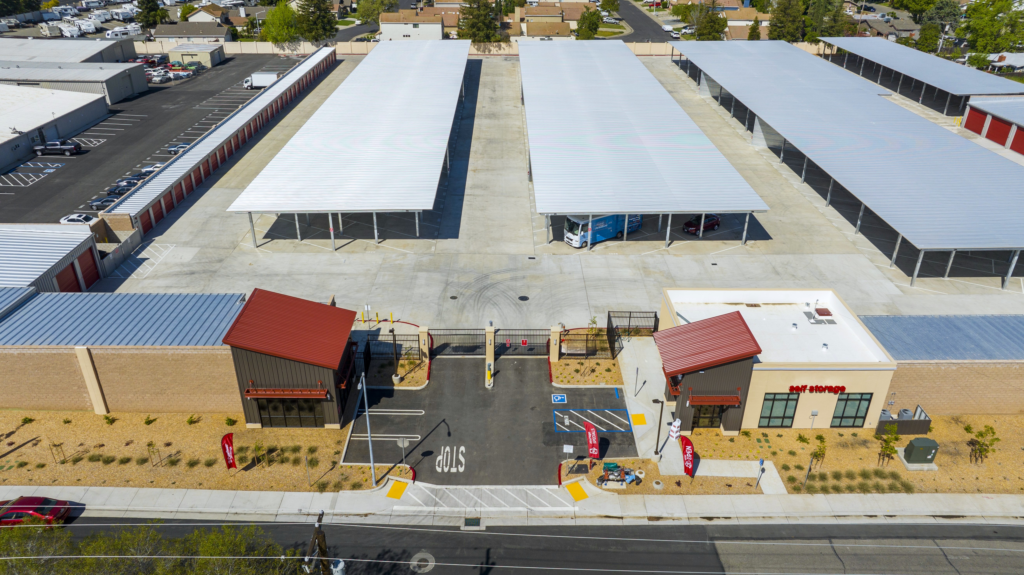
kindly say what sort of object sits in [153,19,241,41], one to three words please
house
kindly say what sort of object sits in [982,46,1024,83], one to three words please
house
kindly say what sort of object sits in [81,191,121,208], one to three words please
car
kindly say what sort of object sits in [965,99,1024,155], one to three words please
building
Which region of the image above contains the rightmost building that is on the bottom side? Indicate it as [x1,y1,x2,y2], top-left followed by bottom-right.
[854,313,1024,415]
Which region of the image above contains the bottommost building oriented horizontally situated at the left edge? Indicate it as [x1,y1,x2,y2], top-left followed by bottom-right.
[0,287,278,414]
